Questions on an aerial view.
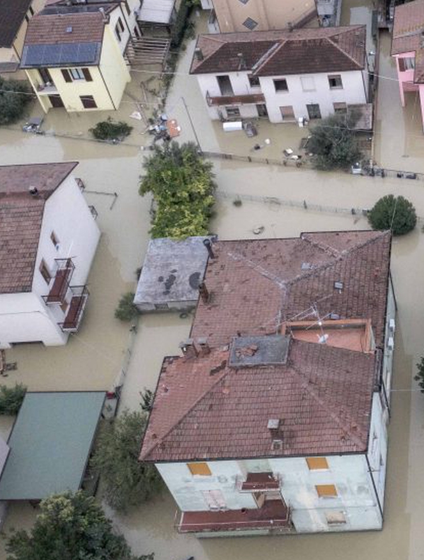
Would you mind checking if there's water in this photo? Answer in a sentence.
Yes, water can be seen from above here.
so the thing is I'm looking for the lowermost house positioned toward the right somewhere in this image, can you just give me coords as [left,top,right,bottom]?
[137,229,400,536]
